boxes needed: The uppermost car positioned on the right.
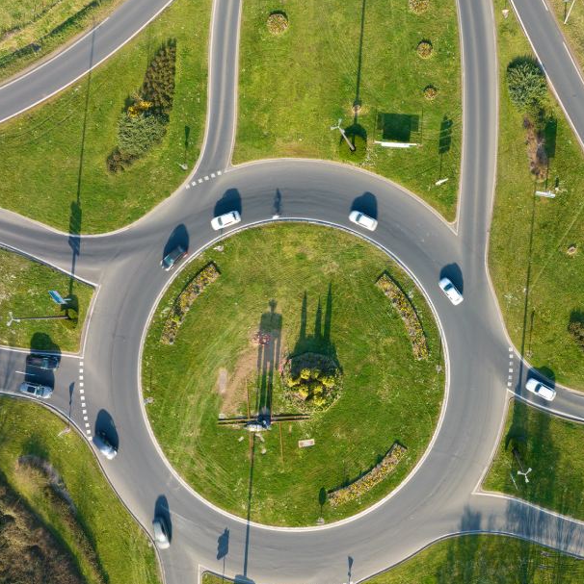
[350,211,378,232]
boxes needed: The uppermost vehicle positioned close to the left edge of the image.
[29,354,58,369]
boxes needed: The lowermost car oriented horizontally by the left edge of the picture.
[19,380,53,398]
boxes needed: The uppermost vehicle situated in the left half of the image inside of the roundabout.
[213,211,240,230]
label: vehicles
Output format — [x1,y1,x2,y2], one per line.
[92,434,118,460]
[213,211,240,230]
[153,519,171,547]
[19,380,53,398]
[440,278,465,306]
[29,354,58,369]
[161,246,189,270]
[527,379,555,401]
[350,211,378,232]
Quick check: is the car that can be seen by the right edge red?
No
